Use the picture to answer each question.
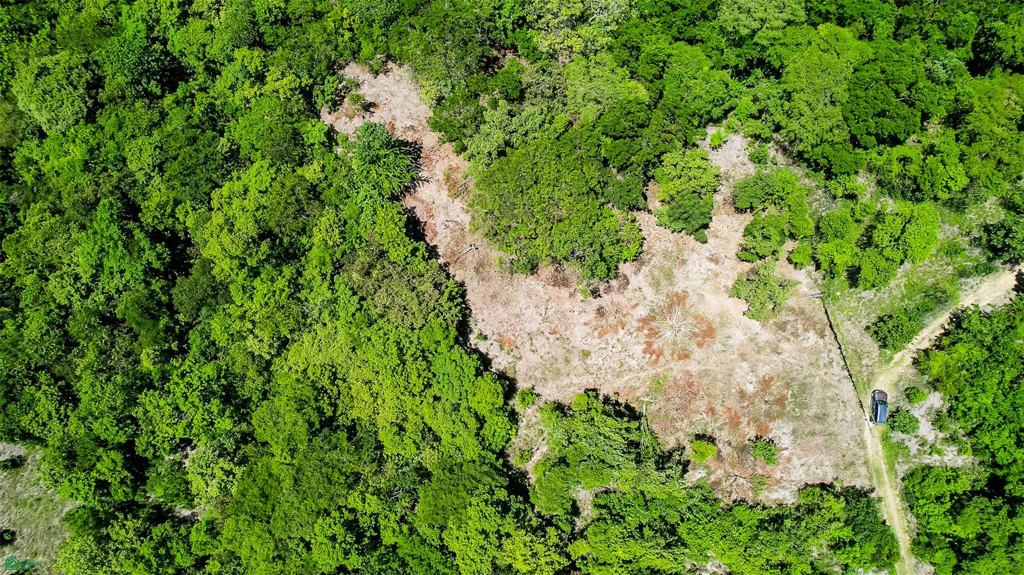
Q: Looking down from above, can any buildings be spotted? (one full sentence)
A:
No, the scene contains no building.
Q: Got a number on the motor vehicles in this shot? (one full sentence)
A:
There is 1 motor vehicle in the image.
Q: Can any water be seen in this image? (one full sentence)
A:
No, water can't be seen anywhere here.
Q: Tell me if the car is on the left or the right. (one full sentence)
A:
It is on the right.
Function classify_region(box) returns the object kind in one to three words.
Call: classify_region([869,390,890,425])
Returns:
car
